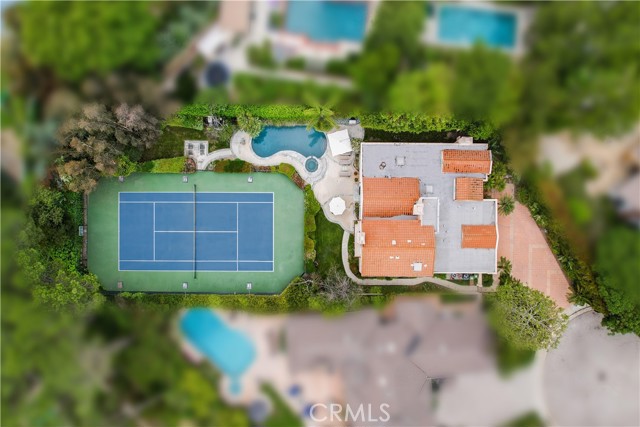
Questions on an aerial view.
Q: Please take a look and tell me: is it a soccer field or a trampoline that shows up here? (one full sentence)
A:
The image shows a trampoline.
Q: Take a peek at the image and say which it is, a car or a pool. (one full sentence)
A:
Looking from above, you can make out a pool.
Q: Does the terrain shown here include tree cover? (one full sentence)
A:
Yes, the picture does contain tree cover.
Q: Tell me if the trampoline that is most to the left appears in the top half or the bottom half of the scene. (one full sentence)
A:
It is in the top half that the trampoline that is most to the left appears.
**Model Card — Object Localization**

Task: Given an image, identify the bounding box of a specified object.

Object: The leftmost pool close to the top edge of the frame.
[284,0,370,43]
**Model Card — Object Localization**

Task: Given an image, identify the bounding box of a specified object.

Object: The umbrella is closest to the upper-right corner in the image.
[328,126,352,157]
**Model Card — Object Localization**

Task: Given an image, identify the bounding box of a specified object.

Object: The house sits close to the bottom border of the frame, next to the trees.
[286,298,488,427]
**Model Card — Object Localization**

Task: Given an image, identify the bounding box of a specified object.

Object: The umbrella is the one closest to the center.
[329,198,346,214]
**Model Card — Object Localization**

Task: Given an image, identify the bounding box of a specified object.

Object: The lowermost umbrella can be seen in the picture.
[302,400,316,416]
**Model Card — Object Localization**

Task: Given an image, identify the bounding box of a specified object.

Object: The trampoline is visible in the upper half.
[201,59,226,85]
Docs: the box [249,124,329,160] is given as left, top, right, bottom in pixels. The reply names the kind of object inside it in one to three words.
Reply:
swimming pool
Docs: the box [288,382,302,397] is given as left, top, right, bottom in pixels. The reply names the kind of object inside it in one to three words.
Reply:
umbrella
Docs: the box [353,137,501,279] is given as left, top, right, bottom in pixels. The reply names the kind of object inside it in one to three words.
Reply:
house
